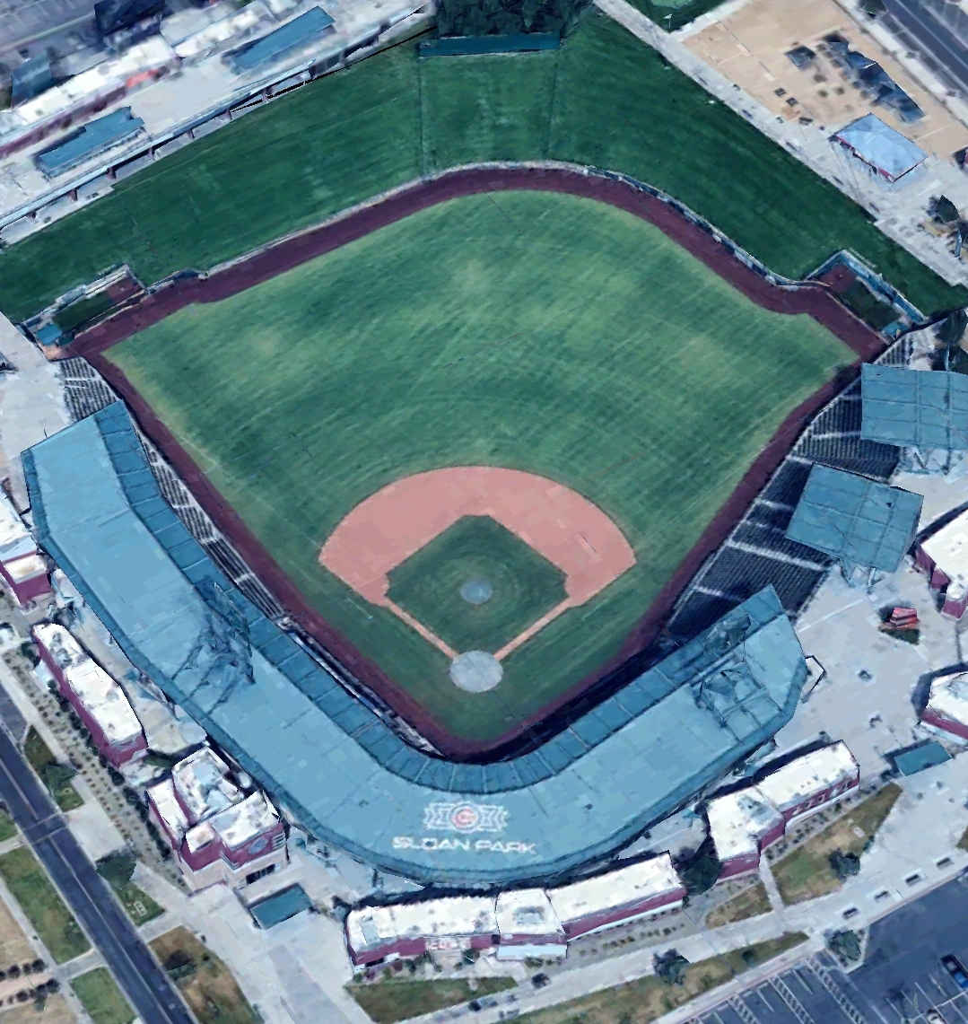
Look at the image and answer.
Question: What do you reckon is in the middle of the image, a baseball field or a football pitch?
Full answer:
The feature located in the middle of the image is a baseball field.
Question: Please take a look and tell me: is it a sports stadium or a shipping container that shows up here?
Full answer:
It is a sports stadium that can be seen here.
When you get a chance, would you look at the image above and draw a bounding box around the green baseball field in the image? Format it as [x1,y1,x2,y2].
[26,167,884,759]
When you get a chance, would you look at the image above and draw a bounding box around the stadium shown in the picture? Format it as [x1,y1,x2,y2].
[21,400,807,899]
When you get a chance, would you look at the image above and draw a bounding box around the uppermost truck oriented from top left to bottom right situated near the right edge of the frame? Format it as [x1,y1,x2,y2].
[940,954,968,987]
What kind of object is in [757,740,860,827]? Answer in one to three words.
building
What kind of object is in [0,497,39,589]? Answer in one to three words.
building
